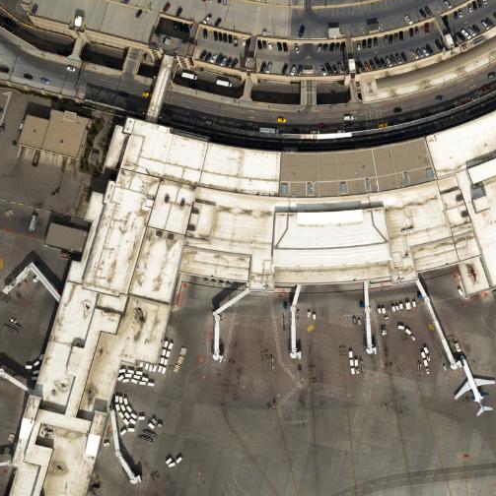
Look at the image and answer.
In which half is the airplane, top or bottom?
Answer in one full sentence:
The airplane sits in the bottom half of the picture.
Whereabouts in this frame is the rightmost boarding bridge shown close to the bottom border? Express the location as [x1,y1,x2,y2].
[109,411,143,486]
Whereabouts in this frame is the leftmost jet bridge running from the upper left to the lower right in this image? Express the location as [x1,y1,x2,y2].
[0,370,30,393]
